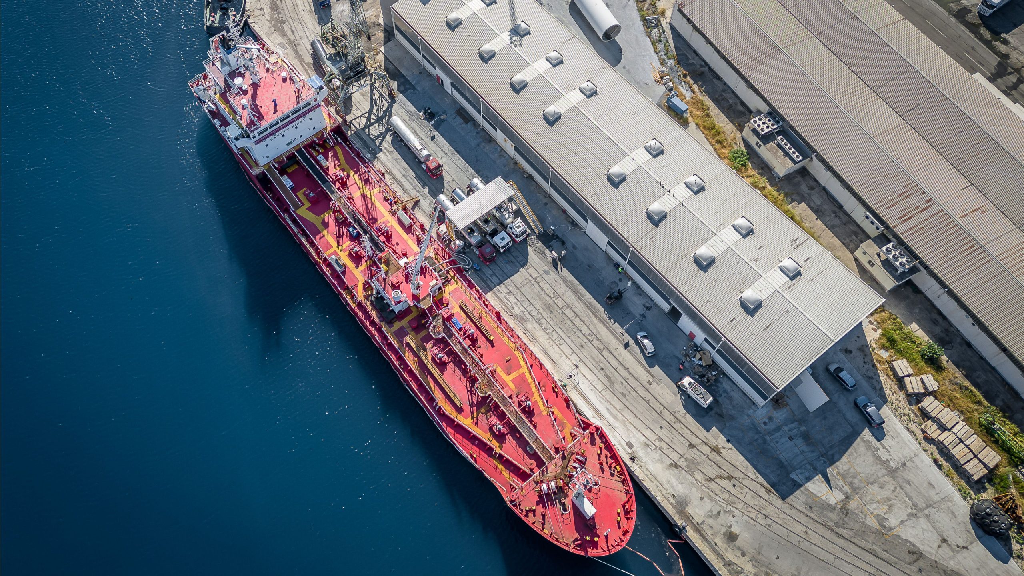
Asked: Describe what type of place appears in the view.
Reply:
port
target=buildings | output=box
[669,0,1024,399]
[390,0,888,408]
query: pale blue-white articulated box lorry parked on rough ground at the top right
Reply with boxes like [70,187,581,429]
[979,0,1010,21]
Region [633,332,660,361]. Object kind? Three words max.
car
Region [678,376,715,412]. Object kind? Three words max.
truck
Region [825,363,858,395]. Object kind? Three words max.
car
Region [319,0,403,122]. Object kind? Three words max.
crane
